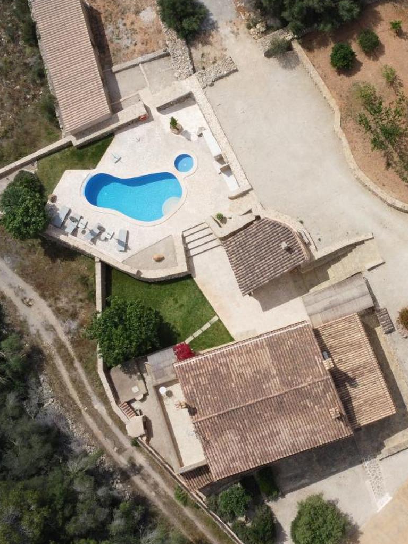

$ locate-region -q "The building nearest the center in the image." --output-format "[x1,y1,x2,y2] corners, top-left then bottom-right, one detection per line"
[221,217,309,296]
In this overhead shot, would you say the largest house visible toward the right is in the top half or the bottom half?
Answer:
bottom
